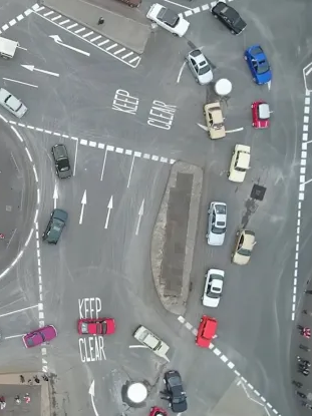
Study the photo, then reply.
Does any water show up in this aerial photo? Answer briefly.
No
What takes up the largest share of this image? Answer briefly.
paved ground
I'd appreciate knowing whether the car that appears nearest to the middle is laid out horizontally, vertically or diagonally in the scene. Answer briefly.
vertically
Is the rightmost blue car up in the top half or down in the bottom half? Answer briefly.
top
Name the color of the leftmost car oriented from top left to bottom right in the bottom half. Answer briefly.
white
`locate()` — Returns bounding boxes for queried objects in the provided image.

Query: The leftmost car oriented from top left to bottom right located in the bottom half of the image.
[132,325,171,357]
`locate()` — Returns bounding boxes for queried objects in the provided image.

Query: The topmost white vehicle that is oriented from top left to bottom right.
[147,3,189,36]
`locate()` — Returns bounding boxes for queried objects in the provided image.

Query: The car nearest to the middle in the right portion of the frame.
[206,201,227,245]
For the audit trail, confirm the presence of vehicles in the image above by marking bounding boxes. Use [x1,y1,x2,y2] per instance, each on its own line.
[159,369,187,413]
[44,208,68,245]
[117,0,141,7]
[231,229,255,265]
[201,268,224,308]
[245,44,271,84]
[77,317,116,336]
[52,143,73,179]
[211,1,244,34]
[227,144,250,182]
[132,325,171,357]
[22,324,57,349]
[194,315,218,348]
[250,100,271,129]
[206,201,227,245]
[187,49,212,85]
[0,88,28,119]
[147,3,189,36]
[0,35,19,59]
[203,102,226,139]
